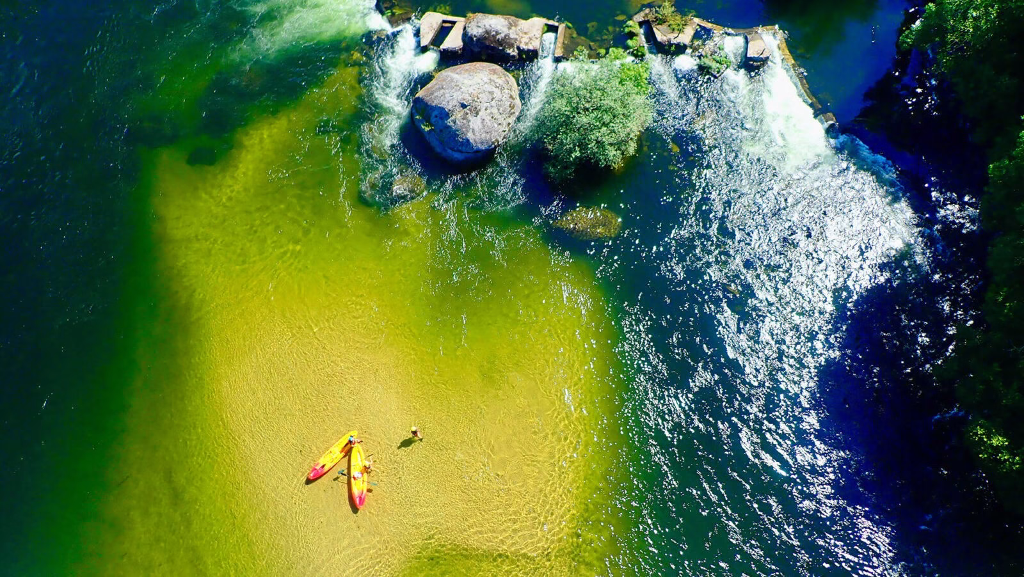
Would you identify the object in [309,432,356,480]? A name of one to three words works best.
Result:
boat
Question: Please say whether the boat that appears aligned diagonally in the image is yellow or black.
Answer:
yellow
